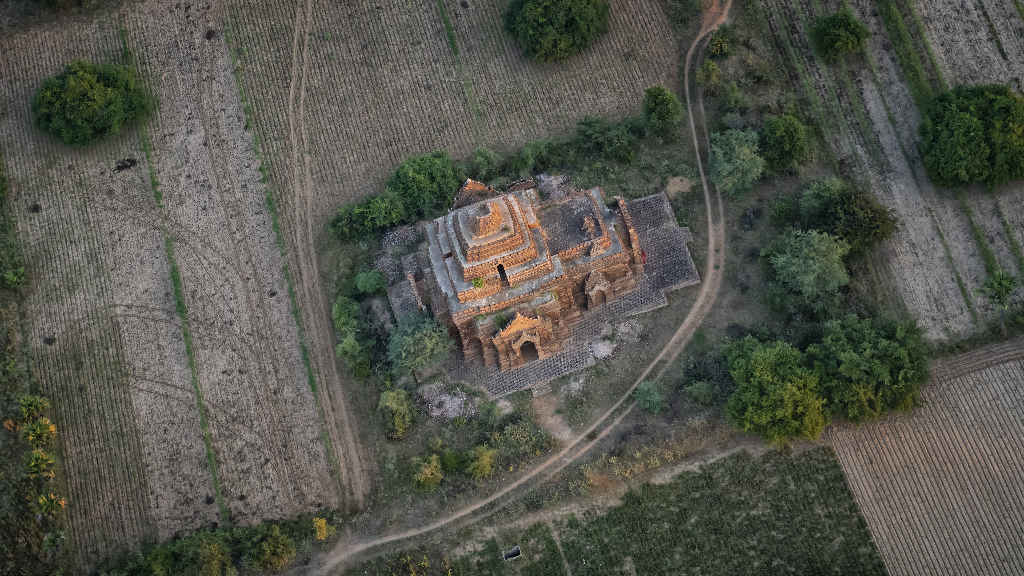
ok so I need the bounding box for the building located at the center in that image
[407,178,647,371]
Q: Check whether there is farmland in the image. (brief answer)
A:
Yes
